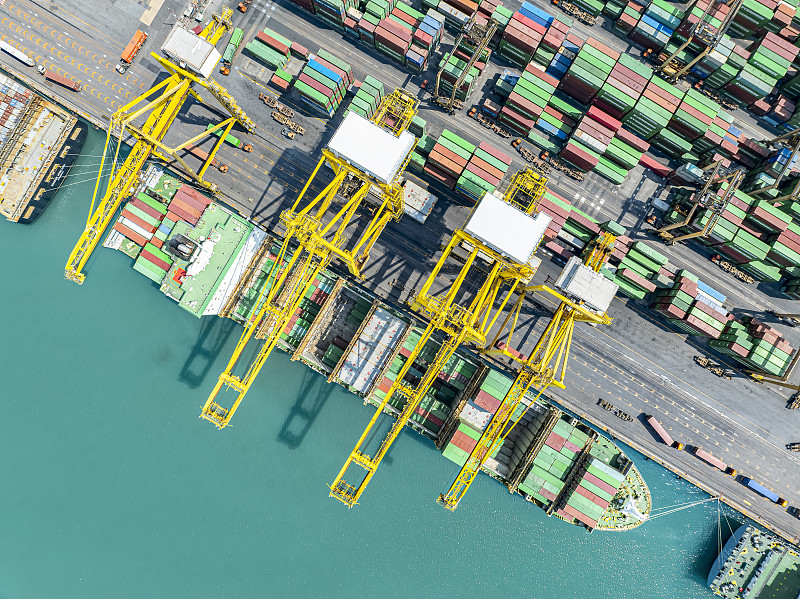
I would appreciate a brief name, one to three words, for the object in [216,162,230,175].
vehicle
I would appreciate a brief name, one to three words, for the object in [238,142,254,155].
vehicle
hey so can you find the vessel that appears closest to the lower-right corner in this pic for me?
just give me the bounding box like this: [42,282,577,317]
[708,522,800,599]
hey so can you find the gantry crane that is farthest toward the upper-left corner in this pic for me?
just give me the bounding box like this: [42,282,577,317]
[54,3,261,288]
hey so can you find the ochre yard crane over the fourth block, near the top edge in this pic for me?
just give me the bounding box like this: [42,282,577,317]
[654,0,746,84]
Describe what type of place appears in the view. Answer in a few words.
port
